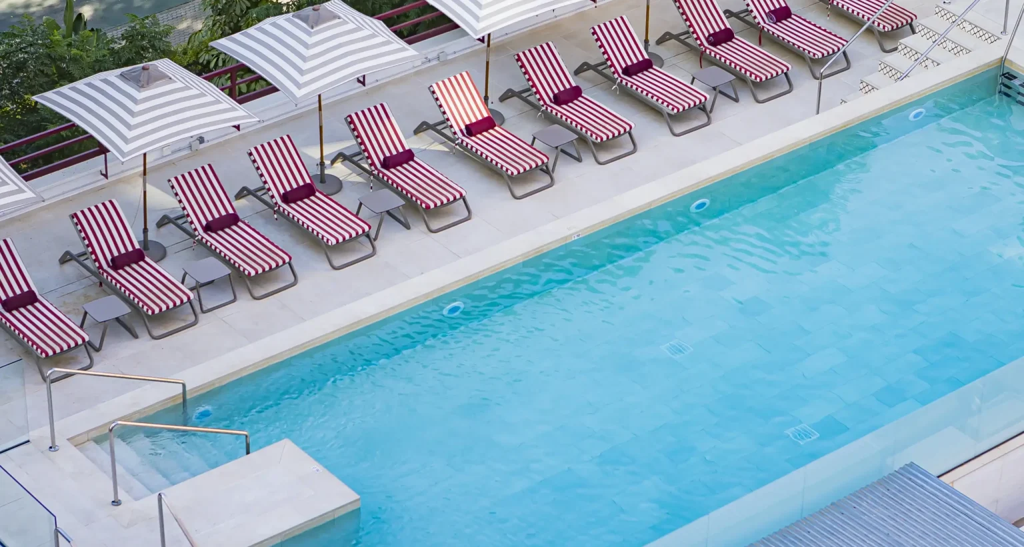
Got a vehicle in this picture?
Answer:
No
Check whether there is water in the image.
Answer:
Yes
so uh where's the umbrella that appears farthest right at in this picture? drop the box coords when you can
[641,0,668,67]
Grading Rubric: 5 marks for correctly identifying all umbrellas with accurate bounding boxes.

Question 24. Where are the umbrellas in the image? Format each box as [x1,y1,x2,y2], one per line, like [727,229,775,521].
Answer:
[641,0,668,67]
[35,61,256,261]
[0,154,47,207]
[422,0,577,128]
[212,0,422,193]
